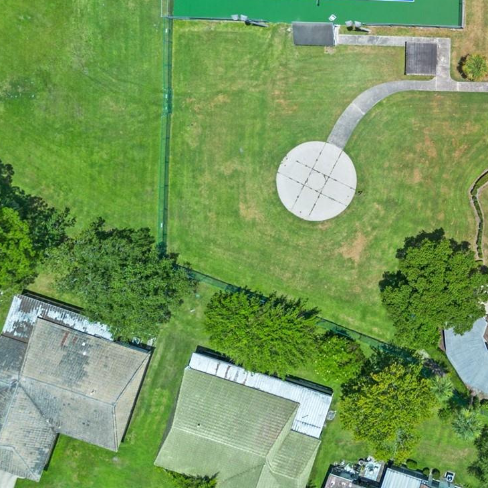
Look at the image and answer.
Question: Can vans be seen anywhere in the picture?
No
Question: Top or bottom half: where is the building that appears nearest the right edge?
bottom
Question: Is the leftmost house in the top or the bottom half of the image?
bottom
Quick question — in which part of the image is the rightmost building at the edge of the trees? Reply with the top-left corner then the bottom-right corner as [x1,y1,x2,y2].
[444,312,488,393]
